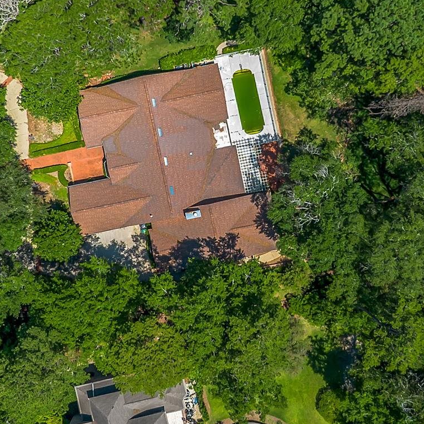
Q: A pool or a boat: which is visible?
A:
pool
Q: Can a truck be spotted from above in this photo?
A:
No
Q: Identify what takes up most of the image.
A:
trees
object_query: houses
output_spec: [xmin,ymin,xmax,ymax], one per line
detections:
[74,373,186,424]
[69,65,288,288]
